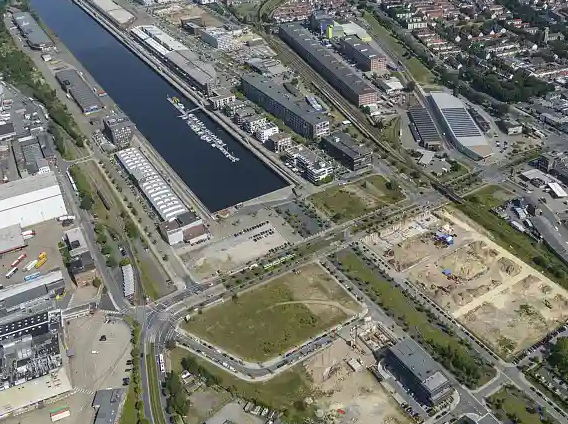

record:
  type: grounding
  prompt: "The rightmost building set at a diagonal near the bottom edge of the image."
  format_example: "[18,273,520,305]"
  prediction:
[389,338,451,403]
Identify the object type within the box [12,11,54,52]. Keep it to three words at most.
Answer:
building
